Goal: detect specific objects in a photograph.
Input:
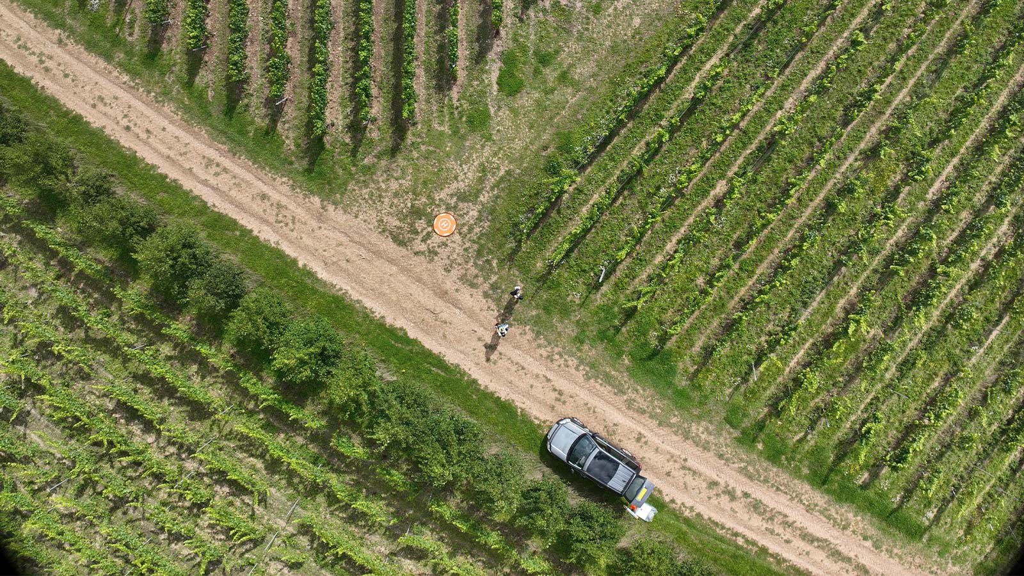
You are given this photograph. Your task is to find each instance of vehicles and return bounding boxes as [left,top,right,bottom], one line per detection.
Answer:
[546,416,655,507]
